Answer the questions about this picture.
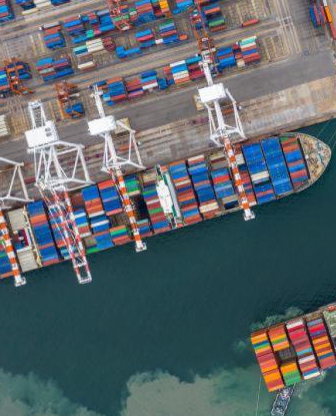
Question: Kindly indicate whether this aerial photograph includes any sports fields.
No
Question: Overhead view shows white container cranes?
Yes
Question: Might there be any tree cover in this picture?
No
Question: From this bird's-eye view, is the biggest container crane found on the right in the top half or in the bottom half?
top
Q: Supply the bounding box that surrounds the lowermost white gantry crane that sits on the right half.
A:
[198,53,255,220]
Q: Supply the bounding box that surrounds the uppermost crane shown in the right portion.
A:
[190,7,220,56]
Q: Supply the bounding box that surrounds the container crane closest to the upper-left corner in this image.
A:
[5,55,43,102]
